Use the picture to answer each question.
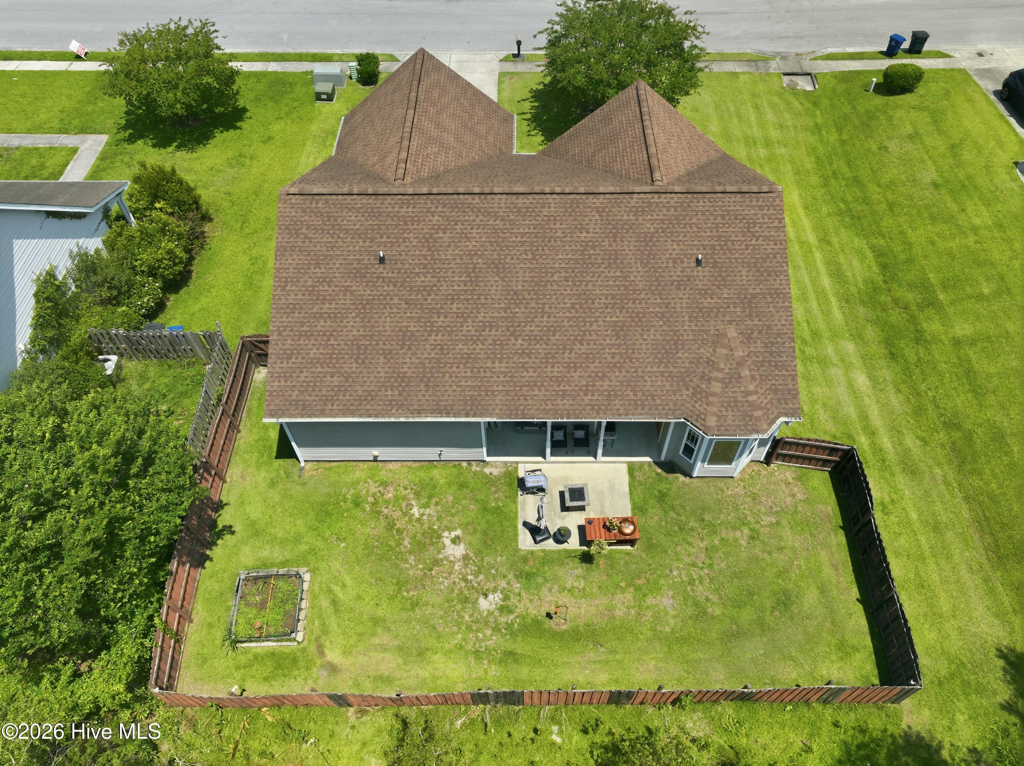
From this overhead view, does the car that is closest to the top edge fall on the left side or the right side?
right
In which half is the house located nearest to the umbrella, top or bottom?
top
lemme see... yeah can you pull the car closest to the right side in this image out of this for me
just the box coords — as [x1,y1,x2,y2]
[1002,67,1024,112]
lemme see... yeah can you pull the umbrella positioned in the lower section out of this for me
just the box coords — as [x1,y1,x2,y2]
[529,498,554,546]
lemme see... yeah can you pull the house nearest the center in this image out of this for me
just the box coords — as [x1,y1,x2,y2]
[262,44,801,477]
